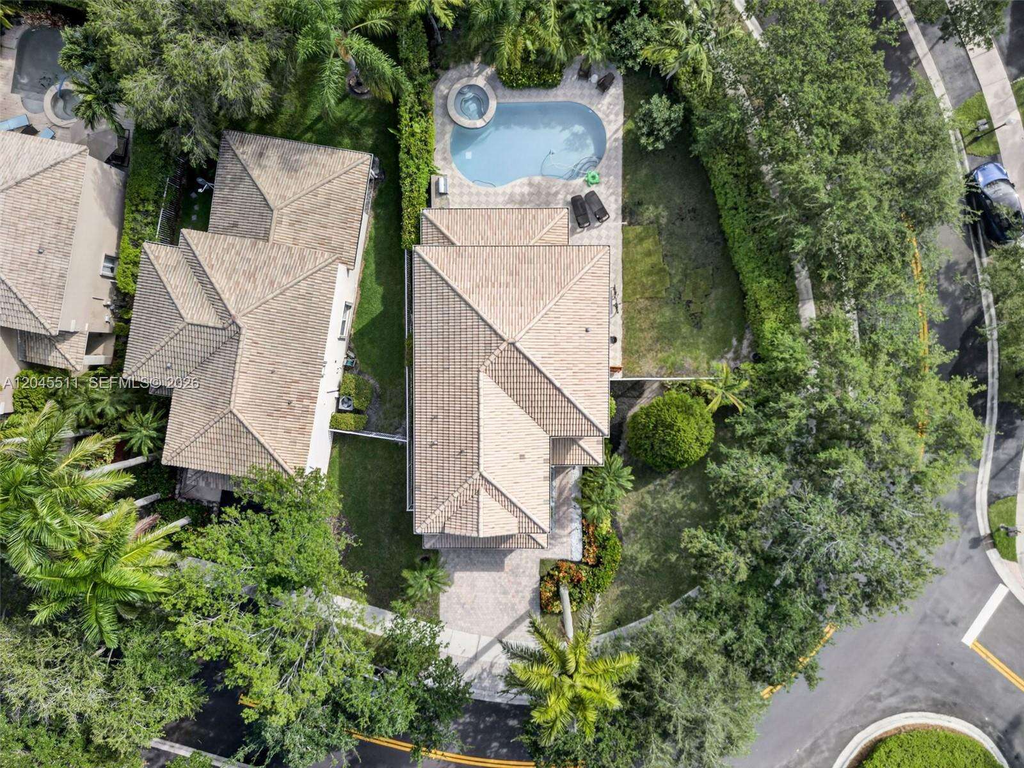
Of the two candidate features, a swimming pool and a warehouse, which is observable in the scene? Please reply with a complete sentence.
There is a swimming pool in the scene.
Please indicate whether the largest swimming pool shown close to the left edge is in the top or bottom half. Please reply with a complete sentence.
It is in the top half that the largest swimming pool shown close to the left edge appears.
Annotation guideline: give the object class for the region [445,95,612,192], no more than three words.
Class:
swimming pool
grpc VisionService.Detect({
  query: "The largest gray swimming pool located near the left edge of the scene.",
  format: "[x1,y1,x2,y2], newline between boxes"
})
[6,24,78,117]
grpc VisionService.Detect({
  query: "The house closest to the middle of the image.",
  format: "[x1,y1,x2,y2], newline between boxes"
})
[411,205,612,551]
